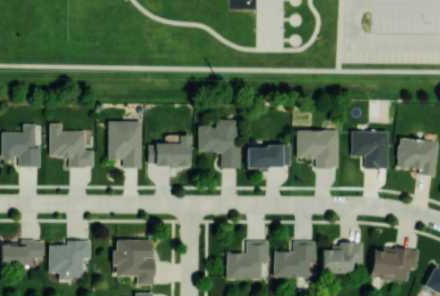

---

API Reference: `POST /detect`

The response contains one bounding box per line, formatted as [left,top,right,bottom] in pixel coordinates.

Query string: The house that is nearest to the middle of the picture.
[198,120,242,168]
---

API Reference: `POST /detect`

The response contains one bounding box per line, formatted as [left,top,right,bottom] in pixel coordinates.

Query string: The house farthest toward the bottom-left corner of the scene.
[2,240,44,266]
